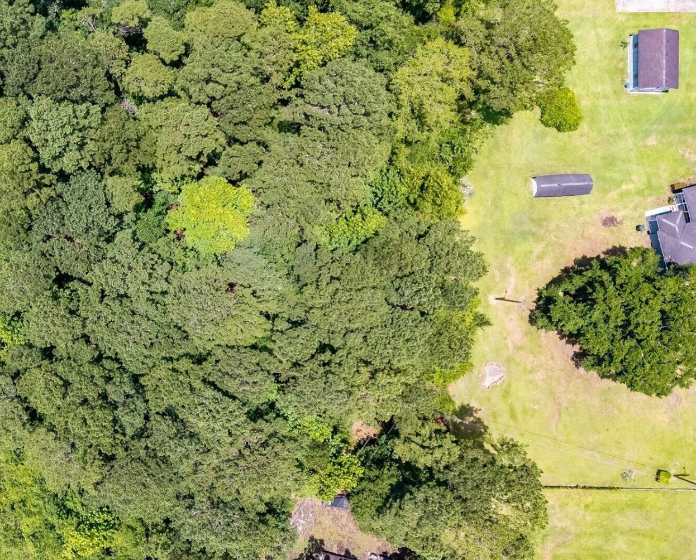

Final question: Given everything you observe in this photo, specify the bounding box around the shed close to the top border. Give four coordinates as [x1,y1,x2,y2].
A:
[627,27,677,95]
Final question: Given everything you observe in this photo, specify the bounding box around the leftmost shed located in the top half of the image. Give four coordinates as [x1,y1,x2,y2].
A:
[530,173,597,198]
